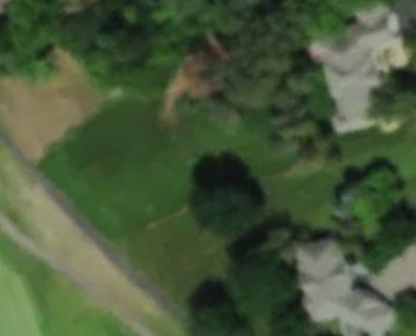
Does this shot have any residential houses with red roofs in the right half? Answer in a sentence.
No, there's no residential house with a red roof to be seen in the right half.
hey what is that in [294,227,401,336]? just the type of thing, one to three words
house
